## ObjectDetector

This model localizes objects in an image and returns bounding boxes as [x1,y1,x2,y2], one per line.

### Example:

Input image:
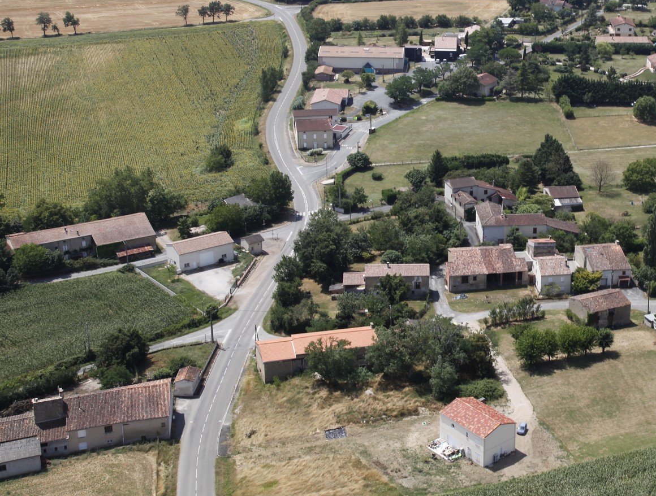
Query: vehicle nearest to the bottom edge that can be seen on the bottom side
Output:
[518,420,530,435]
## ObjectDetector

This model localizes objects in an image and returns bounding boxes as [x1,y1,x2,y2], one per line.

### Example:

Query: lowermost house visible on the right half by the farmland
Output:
[437,395,518,466]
